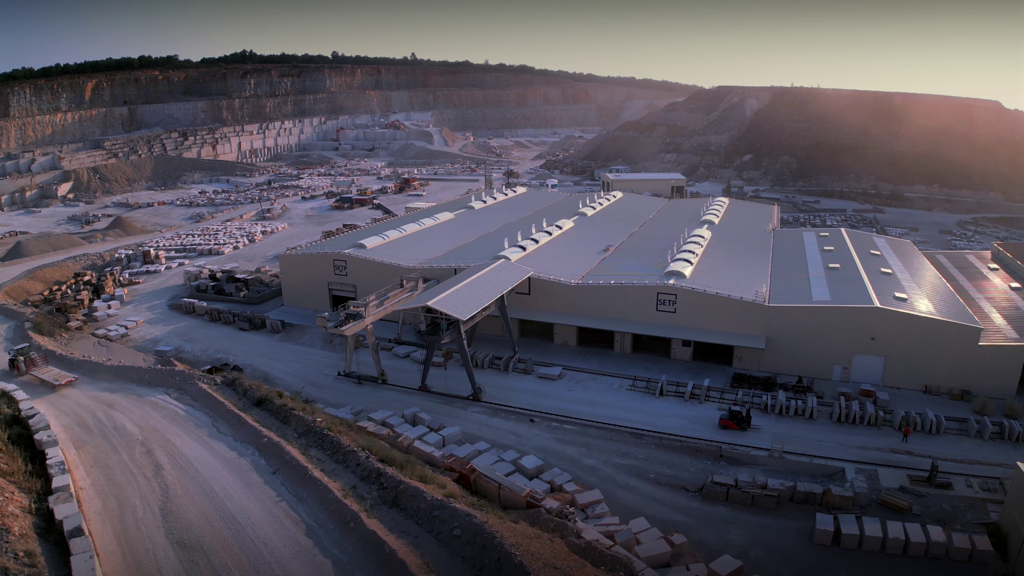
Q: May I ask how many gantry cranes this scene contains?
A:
2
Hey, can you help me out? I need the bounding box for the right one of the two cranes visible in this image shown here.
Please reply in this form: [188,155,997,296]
[384,257,531,404]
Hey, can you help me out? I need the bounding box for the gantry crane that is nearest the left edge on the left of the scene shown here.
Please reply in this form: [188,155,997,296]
[296,262,452,383]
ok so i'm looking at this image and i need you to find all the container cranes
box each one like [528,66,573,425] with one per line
[296,262,452,383]
[384,257,531,404]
